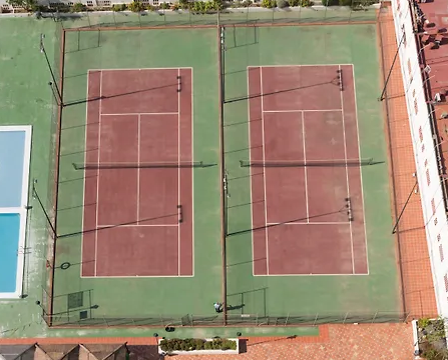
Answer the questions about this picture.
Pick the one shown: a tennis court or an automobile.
tennis court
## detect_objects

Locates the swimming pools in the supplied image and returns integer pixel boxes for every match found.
[0,126,31,208]
[0,207,27,297]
